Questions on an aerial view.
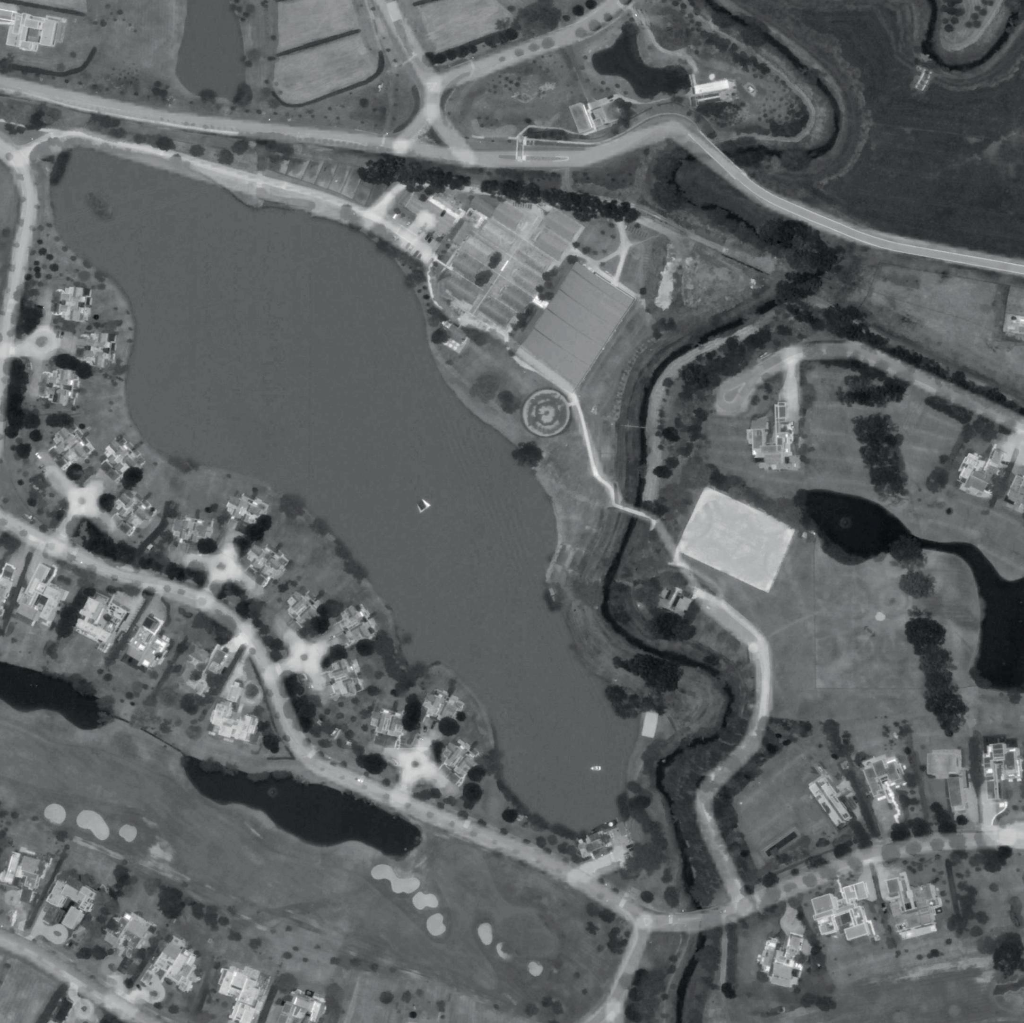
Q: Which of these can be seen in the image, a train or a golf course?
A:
golf course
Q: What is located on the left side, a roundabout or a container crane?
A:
roundabout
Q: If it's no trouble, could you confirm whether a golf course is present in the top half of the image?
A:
No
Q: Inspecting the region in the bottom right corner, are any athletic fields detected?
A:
No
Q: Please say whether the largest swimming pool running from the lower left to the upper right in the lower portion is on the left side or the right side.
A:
right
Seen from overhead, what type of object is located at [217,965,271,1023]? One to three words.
house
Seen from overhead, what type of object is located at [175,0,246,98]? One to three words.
pond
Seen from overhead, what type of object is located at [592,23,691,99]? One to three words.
pond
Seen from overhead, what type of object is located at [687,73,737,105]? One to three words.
building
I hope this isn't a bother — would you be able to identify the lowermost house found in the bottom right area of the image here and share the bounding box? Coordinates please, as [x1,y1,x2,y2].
[757,932,805,988]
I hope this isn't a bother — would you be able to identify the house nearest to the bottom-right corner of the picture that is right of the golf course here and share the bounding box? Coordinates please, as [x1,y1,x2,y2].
[886,877,943,941]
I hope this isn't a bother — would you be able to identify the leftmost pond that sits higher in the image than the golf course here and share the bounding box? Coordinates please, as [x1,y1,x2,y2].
[0,662,113,730]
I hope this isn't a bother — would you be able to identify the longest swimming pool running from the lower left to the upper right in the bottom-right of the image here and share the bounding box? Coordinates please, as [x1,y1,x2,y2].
[765,830,799,858]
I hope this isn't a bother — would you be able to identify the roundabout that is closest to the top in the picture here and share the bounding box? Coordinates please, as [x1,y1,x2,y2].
[0,327,60,361]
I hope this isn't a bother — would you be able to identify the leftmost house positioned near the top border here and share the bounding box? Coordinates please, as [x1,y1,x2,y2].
[0,5,66,51]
